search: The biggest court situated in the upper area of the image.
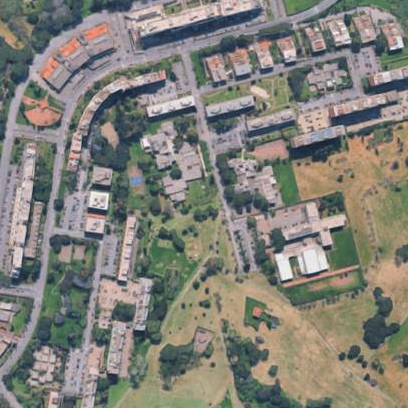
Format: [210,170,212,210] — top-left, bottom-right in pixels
[255,141,288,162]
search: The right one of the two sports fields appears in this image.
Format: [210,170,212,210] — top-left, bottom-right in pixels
[331,230,359,270]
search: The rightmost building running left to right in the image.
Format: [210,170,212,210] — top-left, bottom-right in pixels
[365,65,408,87]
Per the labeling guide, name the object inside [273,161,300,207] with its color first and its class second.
green sports field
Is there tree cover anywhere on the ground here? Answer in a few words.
Yes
